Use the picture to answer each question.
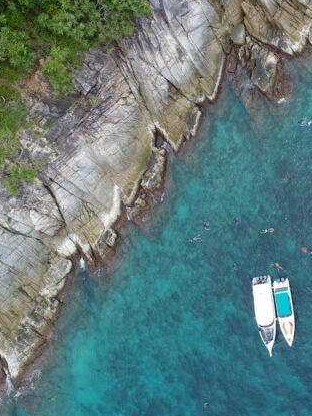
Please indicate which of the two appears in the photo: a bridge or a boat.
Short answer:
boat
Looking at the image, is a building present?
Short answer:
No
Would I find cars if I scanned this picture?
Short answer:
No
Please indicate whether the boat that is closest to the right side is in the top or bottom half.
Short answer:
bottom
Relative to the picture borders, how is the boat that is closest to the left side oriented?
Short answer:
vertically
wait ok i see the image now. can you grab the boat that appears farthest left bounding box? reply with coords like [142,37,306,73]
[253,276,278,357]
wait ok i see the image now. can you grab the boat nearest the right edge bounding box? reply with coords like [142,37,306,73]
[274,278,294,346]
